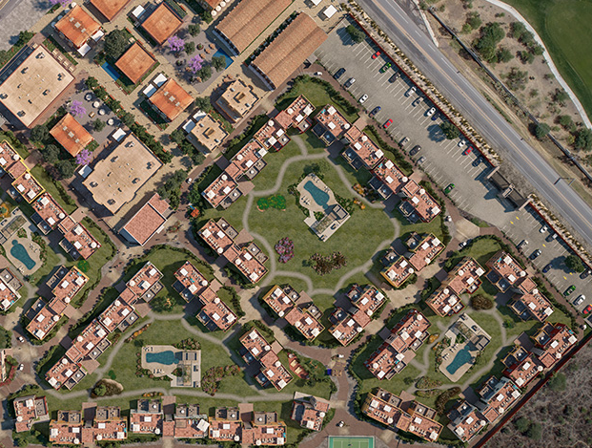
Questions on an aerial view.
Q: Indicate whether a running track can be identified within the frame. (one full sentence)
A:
No, there isn't any running track down there.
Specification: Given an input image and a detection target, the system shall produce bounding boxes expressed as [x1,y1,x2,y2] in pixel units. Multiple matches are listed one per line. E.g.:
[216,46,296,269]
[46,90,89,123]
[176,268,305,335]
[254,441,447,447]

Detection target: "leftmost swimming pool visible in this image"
[0,208,45,277]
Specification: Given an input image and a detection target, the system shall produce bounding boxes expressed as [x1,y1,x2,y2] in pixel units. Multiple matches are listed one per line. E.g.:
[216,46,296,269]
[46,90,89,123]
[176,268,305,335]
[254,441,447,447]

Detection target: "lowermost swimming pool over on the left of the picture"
[140,340,201,389]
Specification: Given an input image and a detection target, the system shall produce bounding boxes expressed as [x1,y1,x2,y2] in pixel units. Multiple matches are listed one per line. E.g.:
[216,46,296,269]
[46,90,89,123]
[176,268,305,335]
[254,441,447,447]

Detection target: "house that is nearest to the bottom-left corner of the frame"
[13,392,49,431]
